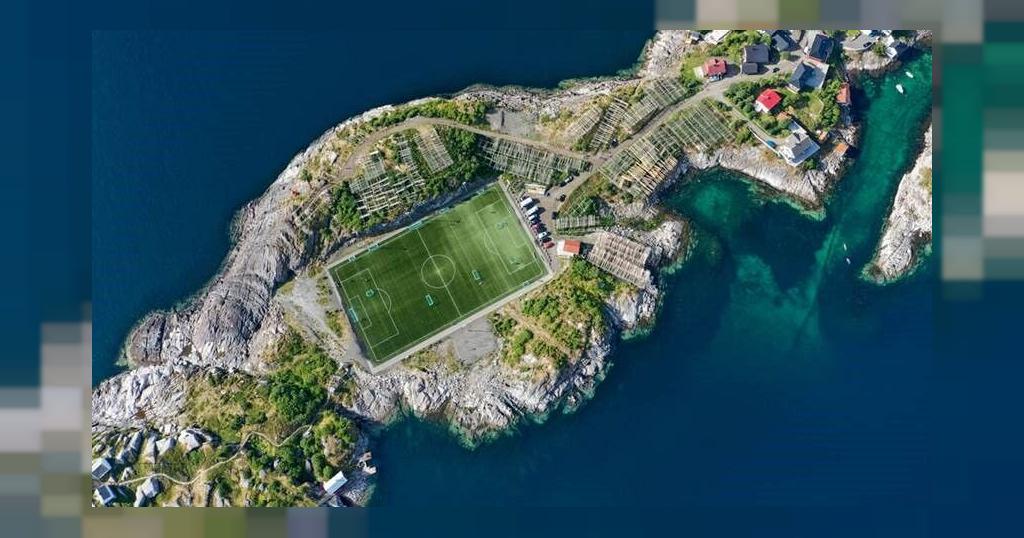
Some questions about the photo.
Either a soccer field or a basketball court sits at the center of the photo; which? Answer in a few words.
soccer field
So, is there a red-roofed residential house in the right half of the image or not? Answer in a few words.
Yes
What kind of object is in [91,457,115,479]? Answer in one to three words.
building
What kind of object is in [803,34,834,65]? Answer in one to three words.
house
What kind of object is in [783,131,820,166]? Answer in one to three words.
house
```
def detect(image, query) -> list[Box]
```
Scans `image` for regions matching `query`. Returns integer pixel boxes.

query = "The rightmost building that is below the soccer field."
[324,471,349,494]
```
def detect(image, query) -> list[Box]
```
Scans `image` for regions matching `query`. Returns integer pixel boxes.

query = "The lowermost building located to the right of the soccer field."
[557,239,581,257]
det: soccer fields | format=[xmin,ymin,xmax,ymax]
[327,181,553,371]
